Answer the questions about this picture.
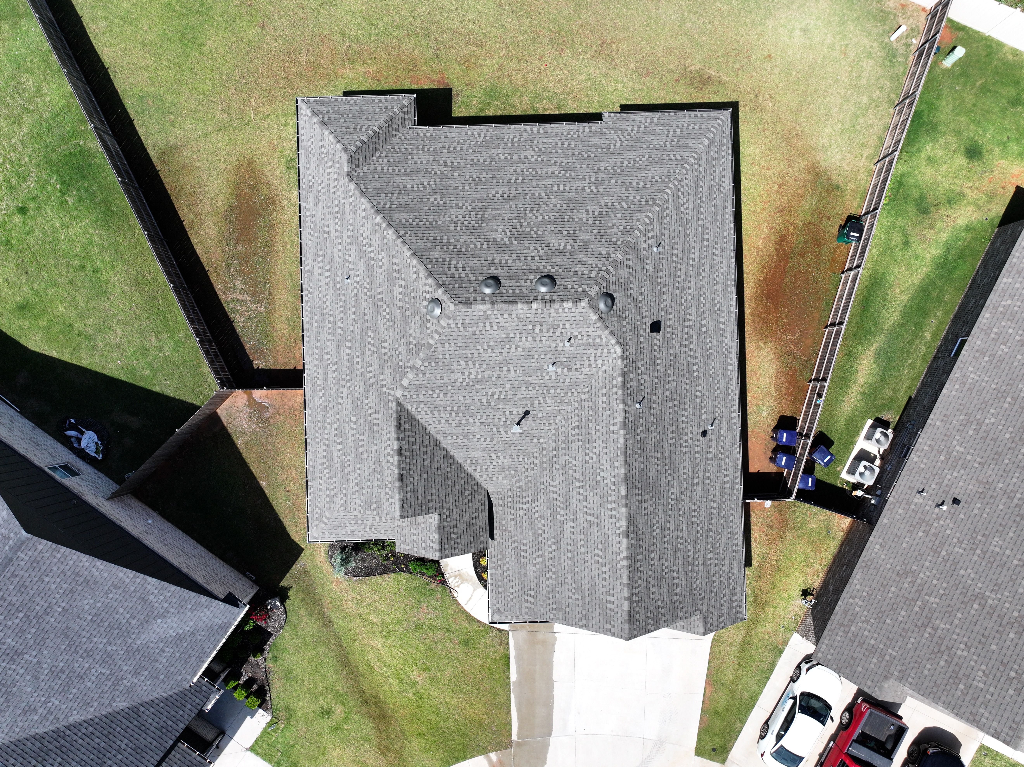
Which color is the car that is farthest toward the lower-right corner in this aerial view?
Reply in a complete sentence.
In this view, the car that is farthest toward the lower-right corner is black.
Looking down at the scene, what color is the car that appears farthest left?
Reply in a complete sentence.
The car that appears farthest left looks white in the image.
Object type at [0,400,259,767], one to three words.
house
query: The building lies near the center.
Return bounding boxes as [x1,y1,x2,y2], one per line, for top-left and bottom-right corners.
[296,94,747,636]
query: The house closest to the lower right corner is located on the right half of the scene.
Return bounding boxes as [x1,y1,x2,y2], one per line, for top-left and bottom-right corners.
[795,219,1024,757]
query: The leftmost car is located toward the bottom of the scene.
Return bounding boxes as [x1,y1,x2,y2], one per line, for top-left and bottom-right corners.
[760,662,842,767]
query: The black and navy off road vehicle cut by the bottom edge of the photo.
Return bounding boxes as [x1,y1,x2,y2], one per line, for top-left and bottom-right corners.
[905,739,963,767]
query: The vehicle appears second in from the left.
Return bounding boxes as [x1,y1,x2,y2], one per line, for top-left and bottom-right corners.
[815,696,906,767]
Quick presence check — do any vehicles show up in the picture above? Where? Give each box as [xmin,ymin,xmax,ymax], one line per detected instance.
[760,662,842,767]
[905,739,963,767]
[815,696,906,767]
